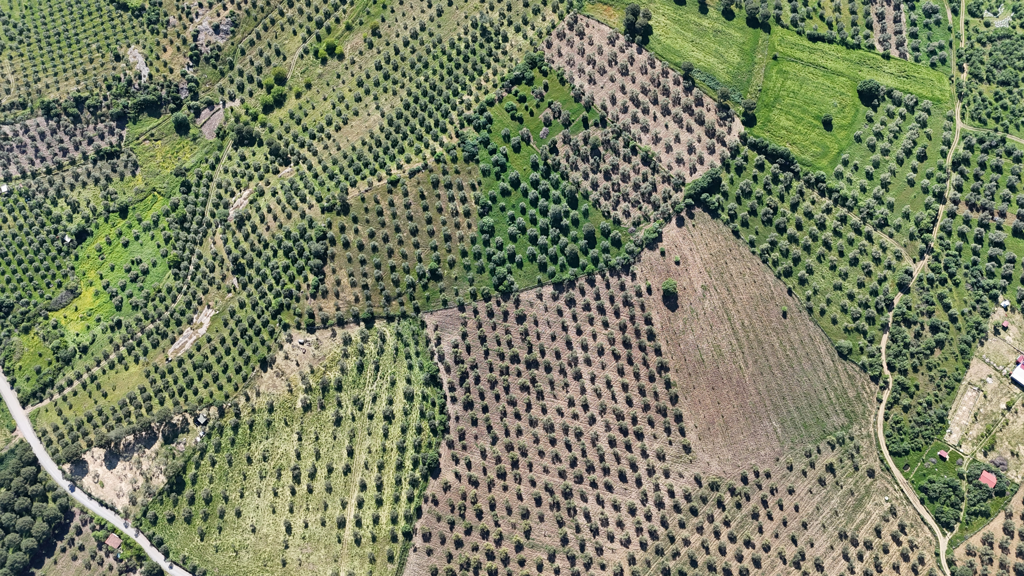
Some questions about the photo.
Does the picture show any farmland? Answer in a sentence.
Yes, there's farmland in this view.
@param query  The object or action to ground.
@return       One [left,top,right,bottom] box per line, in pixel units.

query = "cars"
[198,429,206,437]
[164,357,173,364]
